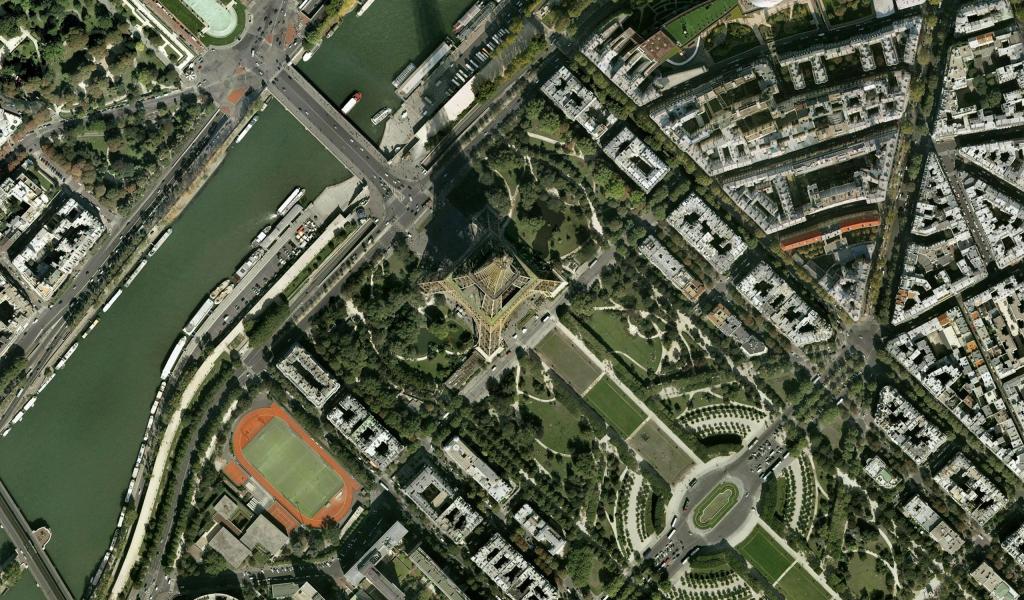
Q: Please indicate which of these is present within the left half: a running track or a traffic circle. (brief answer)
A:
running track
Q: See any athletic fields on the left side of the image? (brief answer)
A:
Yes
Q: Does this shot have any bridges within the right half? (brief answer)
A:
No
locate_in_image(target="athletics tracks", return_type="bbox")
[233,402,362,526]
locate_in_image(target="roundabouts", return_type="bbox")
[685,468,747,538]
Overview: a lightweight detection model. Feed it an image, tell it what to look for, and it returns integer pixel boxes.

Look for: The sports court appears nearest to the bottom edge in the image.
[266,499,301,534]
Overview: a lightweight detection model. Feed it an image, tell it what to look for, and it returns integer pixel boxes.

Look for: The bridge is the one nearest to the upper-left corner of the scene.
[268,66,378,177]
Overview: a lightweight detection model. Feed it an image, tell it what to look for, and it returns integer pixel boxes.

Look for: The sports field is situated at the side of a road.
[233,402,362,526]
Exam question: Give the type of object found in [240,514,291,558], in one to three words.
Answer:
building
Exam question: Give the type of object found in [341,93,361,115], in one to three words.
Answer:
boat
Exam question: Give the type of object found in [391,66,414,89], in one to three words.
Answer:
boat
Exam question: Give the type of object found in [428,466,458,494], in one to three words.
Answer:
building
